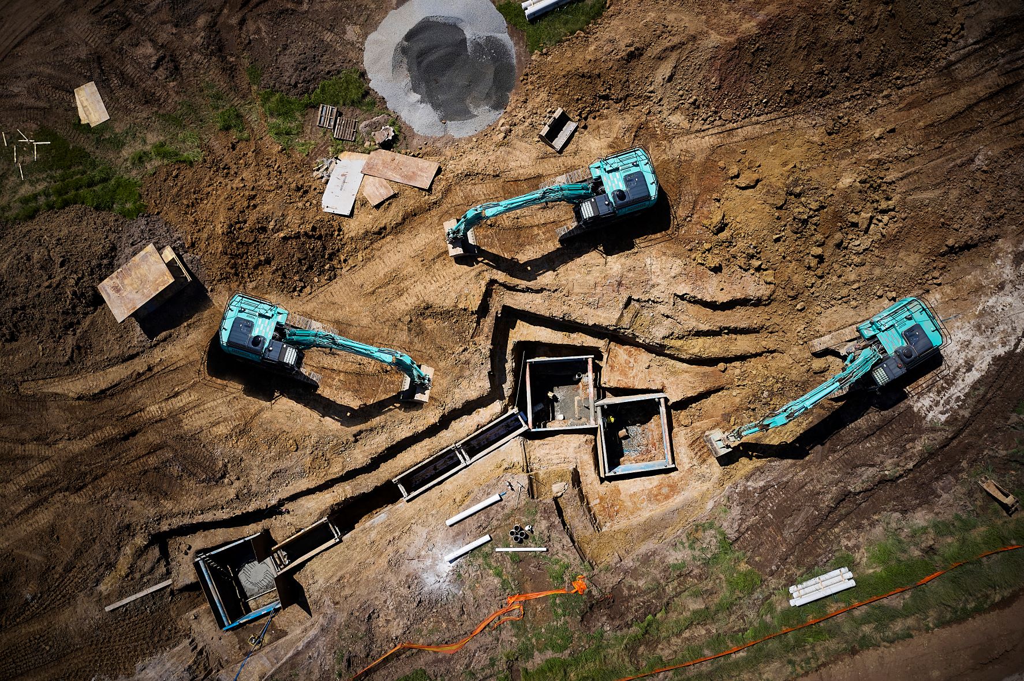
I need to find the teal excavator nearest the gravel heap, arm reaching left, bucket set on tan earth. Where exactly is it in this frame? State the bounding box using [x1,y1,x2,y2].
[442,144,665,258]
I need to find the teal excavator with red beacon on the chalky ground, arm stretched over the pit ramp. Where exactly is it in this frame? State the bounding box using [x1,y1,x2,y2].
[705,302,952,464]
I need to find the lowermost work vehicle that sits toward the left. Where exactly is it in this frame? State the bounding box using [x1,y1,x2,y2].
[208,296,438,399]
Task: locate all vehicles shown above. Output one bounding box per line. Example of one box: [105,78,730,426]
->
[705,302,952,464]
[208,296,438,399]
[442,144,665,258]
